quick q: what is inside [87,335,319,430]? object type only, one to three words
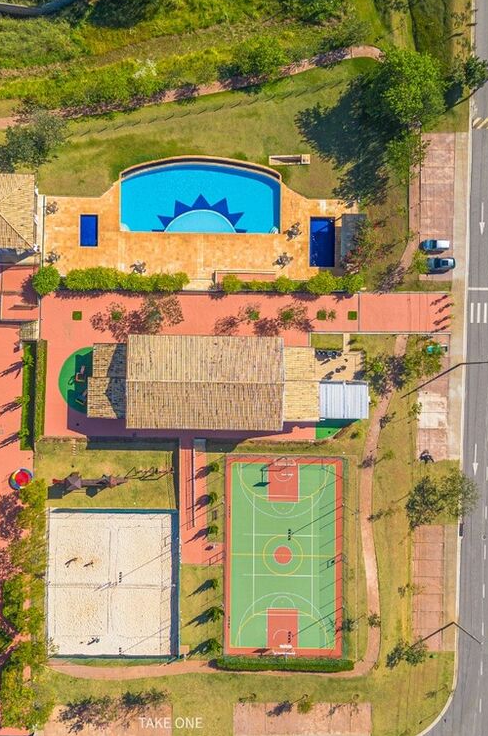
building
